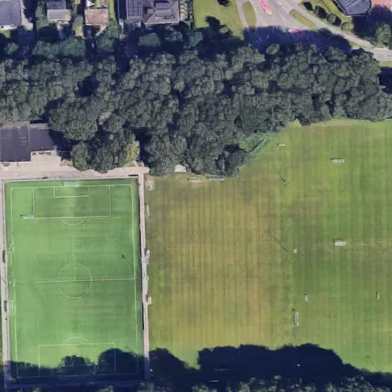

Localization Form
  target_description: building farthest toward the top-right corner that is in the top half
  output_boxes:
[333,0,372,18]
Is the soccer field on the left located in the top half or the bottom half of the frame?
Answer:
bottom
